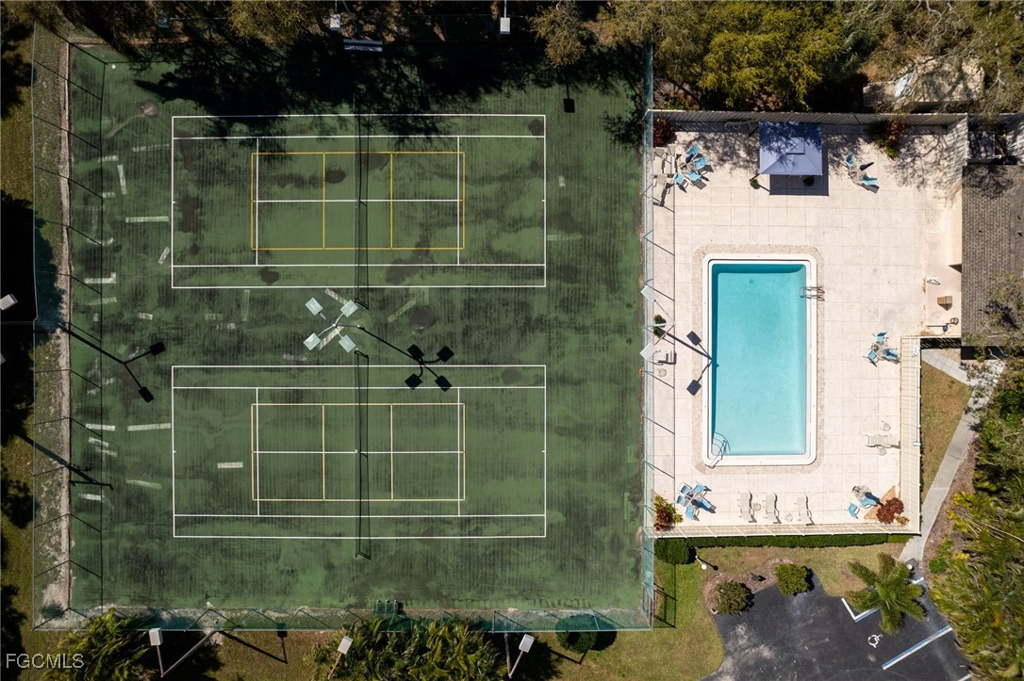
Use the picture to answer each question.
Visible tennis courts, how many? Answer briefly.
2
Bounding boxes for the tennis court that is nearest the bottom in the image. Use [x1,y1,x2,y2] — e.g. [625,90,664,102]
[172,365,546,538]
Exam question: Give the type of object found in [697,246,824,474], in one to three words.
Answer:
swimming pool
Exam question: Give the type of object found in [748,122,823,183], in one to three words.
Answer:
gazebo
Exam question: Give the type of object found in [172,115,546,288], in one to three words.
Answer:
tennis court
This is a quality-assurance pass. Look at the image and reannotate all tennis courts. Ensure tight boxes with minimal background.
[172,115,546,288]
[172,365,546,538]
